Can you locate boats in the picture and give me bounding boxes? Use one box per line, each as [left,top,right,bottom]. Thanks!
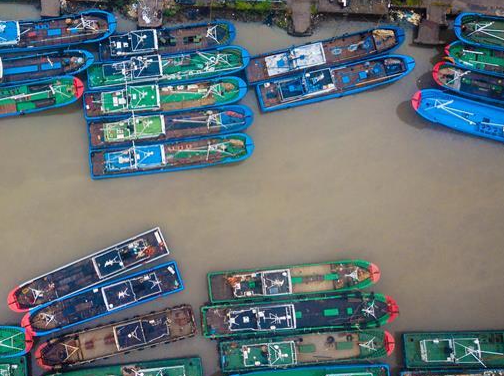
[87,48,252,92]
[444,43,504,81]
[91,137,256,179]
[6,228,171,306]
[41,358,203,376]
[99,25,238,63]
[0,325,36,357]
[22,262,184,334]
[0,14,118,54]
[208,260,382,301]
[245,30,406,87]
[88,107,254,150]
[223,363,390,376]
[432,63,504,106]
[412,92,504,145]
[398,330,504,367]
[216,330,398,372]
[255,55,417,113]
[34,307,196,365]
[199,294,402,338]
[453,15,504,54]
[0,51,95,87]
[84,79,249,121]
[0,76,87,117]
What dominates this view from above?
water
